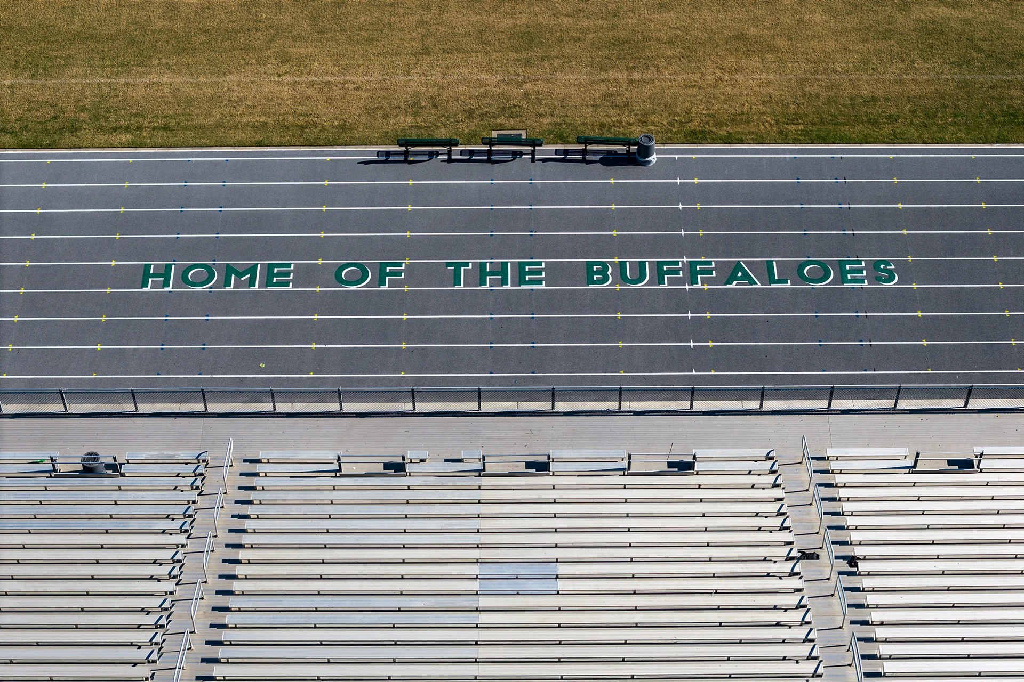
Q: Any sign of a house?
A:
No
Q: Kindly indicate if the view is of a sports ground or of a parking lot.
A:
sports ground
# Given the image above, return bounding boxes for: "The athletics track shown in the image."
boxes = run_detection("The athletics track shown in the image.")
[0,147,1024,404]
